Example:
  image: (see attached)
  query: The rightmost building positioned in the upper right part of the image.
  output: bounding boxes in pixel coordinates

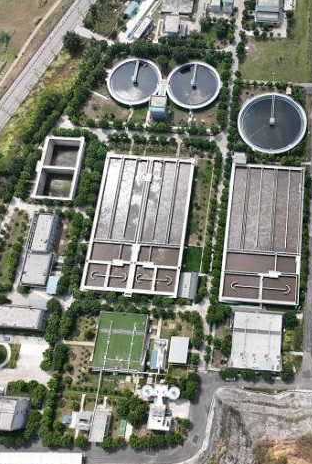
[257,0,281,26]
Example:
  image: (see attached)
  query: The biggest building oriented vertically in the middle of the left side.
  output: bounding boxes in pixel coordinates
[18,213,60,286]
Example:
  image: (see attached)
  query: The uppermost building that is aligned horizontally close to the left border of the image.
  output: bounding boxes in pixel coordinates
[0,305,48,330]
